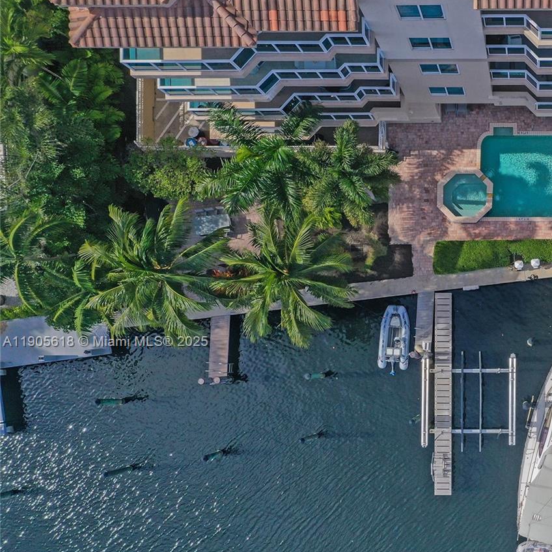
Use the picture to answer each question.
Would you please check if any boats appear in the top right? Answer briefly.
No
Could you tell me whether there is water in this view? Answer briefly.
Yes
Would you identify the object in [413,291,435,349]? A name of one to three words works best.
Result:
pier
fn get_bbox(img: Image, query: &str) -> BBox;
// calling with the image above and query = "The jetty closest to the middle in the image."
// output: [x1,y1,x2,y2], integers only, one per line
[204,316,244,378]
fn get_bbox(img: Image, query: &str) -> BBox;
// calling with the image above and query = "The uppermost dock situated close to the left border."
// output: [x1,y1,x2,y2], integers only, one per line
[0,328,121,368]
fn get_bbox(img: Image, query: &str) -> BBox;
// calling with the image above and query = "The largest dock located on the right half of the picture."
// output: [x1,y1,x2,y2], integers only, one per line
[434,293,452,495]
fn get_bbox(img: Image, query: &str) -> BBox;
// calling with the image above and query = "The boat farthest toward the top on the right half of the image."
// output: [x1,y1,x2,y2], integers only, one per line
[378,304,410,374]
